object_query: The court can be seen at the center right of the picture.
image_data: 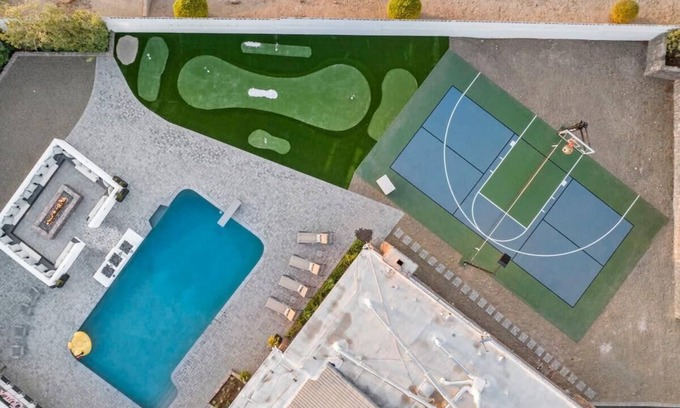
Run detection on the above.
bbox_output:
[355,51,668,343]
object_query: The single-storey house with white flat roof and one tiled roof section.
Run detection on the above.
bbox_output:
[229,243,591,408]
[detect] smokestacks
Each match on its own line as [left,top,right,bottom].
[375,238,418,273]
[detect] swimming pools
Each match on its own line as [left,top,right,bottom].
[72,185,268,408]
